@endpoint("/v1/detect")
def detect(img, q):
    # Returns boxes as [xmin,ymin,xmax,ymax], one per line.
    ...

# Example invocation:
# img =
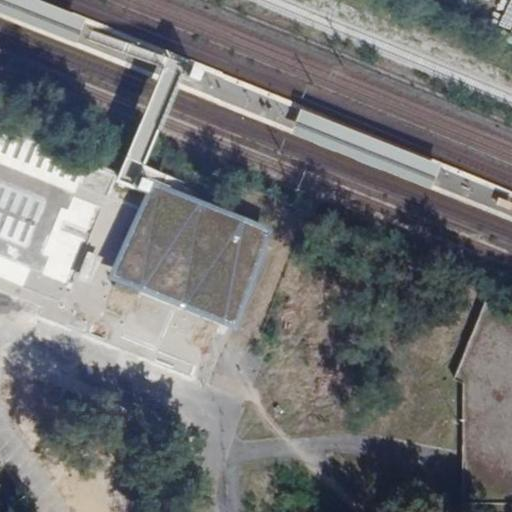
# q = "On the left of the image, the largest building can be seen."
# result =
[116,176,272,324]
